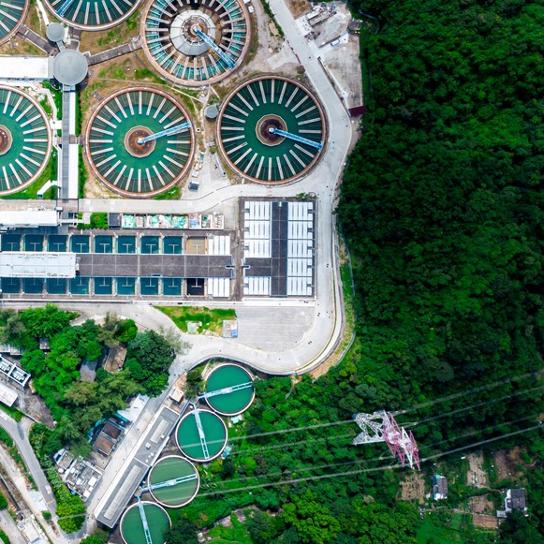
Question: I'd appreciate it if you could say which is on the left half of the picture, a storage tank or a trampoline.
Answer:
storage tank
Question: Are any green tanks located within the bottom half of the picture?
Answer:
Yes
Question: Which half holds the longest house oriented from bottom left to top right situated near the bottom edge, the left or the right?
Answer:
left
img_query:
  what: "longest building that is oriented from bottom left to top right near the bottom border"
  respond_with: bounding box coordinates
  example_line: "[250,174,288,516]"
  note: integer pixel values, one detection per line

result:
[91,401,180,528]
